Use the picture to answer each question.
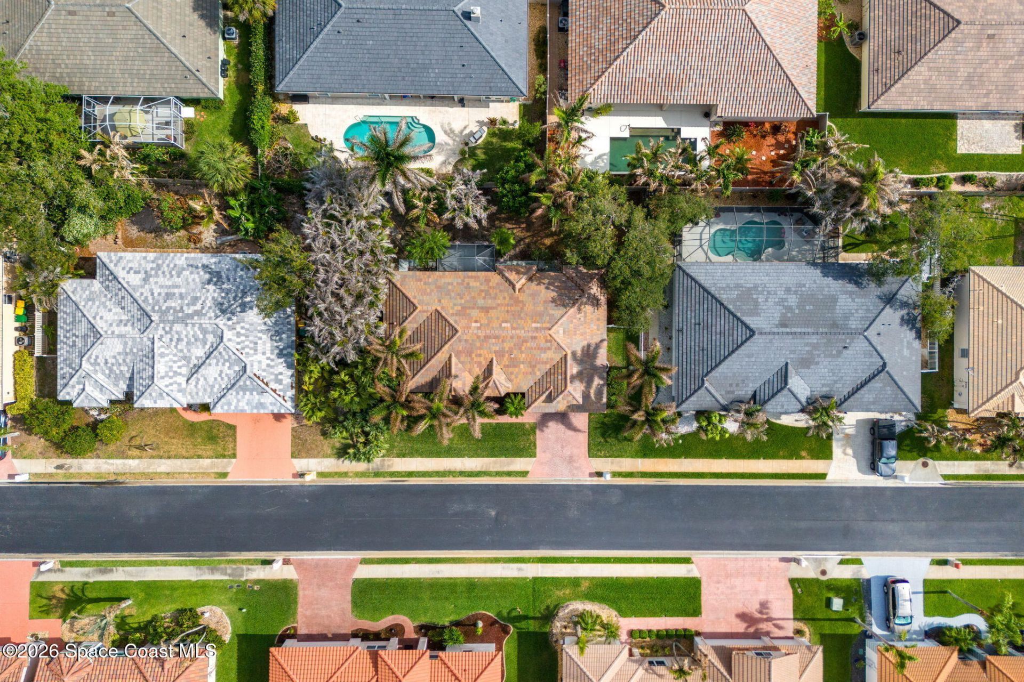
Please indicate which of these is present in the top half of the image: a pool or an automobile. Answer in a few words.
pool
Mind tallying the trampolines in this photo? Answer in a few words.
0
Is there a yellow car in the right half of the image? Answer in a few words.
No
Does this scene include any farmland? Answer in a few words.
No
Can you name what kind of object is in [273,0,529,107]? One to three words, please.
house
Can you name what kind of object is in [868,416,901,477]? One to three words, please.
truck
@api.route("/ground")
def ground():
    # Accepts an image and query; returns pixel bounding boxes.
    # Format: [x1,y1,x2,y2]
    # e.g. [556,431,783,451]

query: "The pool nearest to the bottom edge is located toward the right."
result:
[708,219,787,261]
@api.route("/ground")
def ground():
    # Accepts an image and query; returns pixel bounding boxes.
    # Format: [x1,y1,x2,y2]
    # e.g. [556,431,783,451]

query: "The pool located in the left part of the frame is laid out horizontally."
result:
[341,113,437,157]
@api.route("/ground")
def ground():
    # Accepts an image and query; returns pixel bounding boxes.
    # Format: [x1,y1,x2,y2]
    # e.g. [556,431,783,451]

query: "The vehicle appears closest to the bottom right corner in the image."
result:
[882,577,915,632]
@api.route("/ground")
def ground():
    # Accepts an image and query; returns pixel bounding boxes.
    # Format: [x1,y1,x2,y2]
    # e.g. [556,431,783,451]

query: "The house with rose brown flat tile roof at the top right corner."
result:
[858,0,1024,115]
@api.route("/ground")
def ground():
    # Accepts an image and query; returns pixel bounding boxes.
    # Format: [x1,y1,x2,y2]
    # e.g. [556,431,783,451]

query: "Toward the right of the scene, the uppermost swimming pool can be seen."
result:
[610,128,697,171]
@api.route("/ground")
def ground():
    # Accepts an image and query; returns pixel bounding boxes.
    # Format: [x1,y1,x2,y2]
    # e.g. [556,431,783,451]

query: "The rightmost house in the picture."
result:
[955,265,1024,418]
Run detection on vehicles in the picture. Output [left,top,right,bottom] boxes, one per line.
[868,416,901,477]
[0,409,8,460]
[882,577,915,632]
